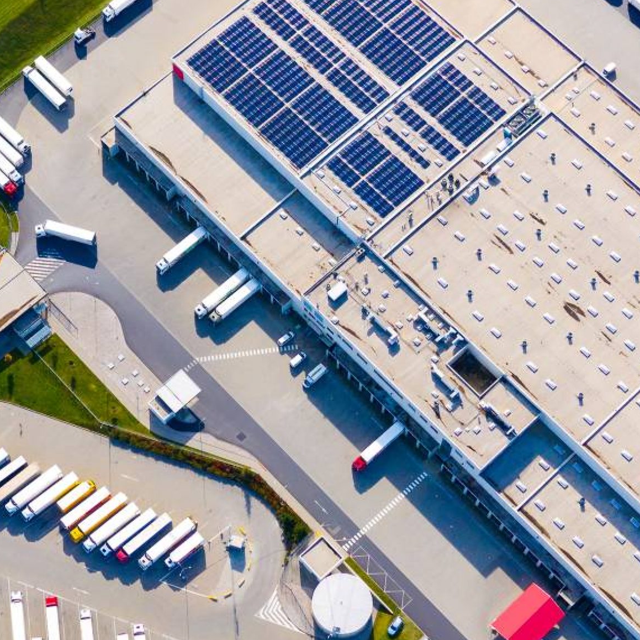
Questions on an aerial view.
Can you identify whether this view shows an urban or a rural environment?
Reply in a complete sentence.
The land in this view is best described as urban.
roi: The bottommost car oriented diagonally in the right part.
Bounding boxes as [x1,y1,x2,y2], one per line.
[387,618,401,637]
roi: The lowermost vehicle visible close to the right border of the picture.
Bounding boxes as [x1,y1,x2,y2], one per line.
[603,60,616,79]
